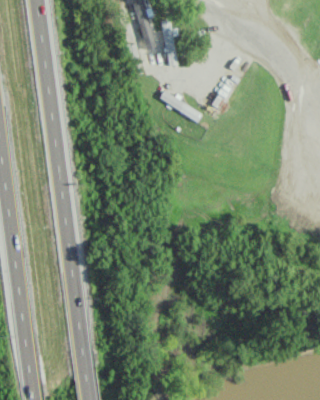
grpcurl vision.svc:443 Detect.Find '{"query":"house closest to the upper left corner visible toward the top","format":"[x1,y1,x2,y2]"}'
[130,3,158,54]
